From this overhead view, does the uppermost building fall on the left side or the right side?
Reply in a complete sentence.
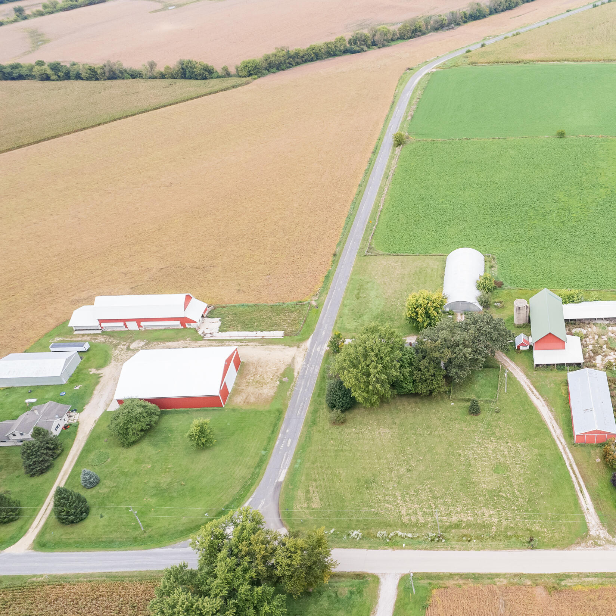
It is on the right.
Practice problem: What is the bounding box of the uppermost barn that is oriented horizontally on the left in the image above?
[67,293,206,332]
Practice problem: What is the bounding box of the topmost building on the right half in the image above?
[444,247,484,310]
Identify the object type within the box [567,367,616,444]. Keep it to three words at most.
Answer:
shed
